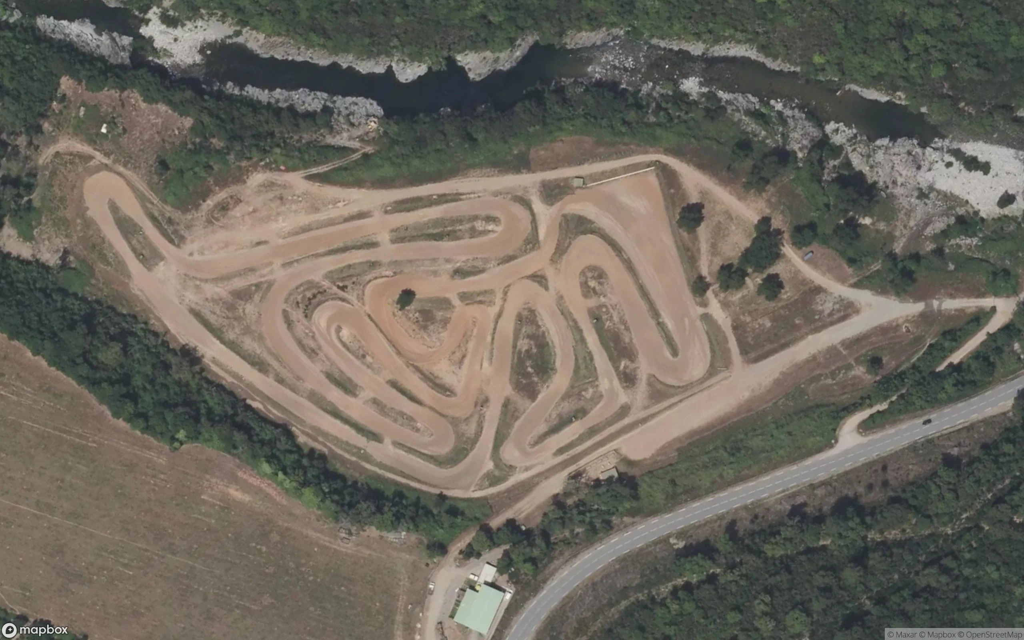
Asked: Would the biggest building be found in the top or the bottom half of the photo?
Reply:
bottom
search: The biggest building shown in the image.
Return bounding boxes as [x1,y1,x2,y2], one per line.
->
[454,585,505,635]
